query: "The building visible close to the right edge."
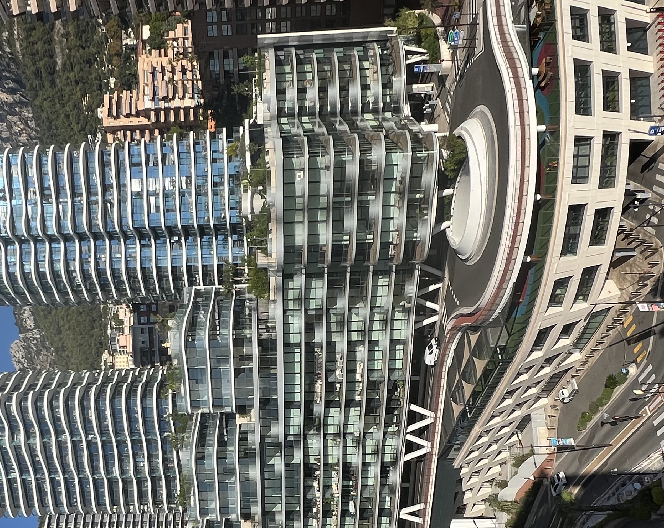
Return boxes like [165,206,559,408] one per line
[454,0,654,471]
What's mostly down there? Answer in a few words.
buildings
